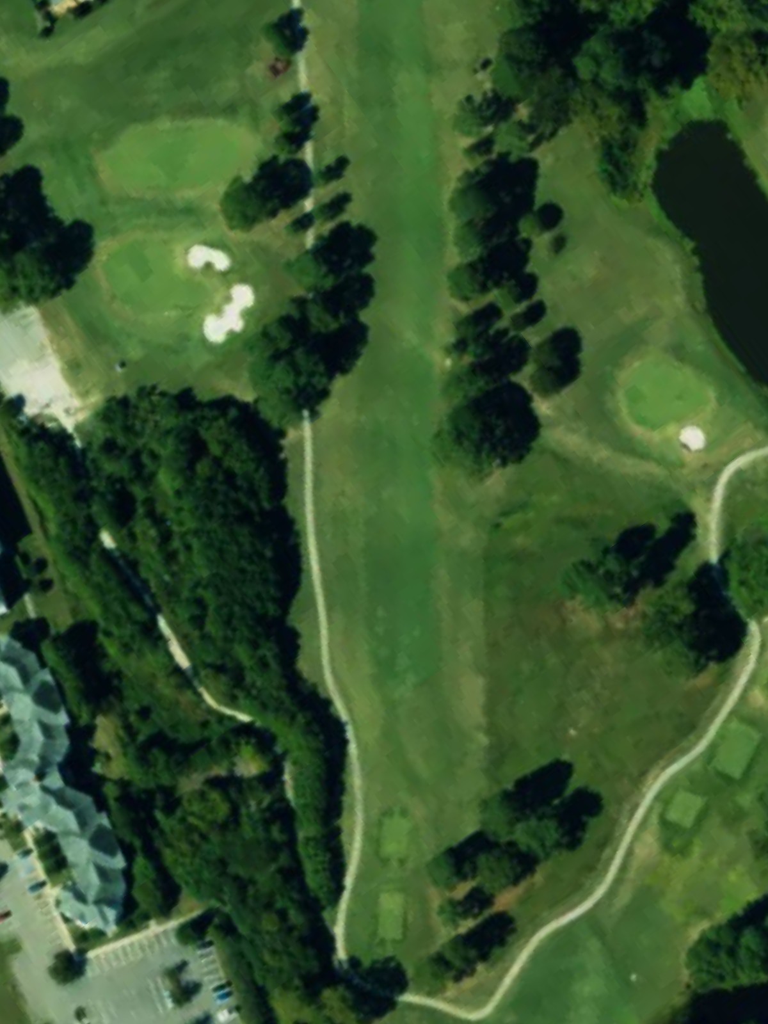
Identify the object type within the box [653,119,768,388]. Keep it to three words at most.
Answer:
pond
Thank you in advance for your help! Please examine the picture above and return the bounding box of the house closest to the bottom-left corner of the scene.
[0,633,128,939]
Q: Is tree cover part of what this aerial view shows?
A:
Yes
